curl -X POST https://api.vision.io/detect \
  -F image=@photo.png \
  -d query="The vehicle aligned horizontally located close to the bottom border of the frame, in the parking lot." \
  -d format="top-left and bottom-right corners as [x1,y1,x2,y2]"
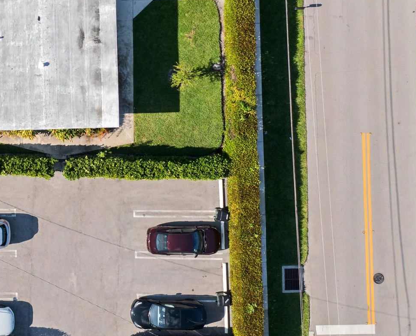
[129,295,207,333]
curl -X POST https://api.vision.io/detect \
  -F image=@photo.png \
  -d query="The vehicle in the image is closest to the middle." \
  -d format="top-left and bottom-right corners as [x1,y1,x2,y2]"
[145,223,221,259]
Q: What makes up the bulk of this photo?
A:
paved ground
